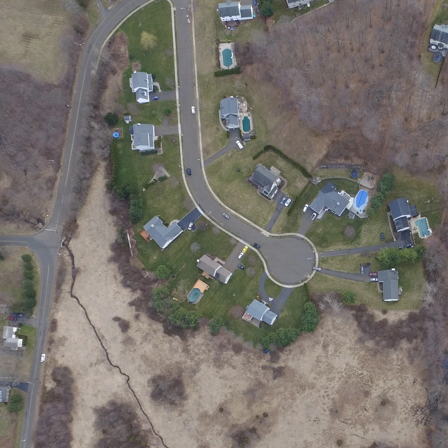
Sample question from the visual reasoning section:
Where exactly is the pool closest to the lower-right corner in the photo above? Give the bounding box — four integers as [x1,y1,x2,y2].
[416,217,430,237]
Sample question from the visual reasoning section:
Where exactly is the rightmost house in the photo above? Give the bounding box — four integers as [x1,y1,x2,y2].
[429,24,448,57]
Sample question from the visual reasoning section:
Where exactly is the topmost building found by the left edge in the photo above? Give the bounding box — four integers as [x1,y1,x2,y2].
[2,327,21,350]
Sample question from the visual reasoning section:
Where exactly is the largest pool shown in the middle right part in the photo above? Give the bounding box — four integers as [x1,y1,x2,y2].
[353,189,369,214]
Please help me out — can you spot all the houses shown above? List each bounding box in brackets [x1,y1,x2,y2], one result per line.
[310,182,354,216]
[2,327,21,350]
[243,298,276,325]
[141,215,184,249]
[0,386,13,402]
[378,268,398,299]
[218,0,253,28]
[129,70,155,101]
[129,122,157,151]
[389,198,418,231]
[250,164,281,199]
[429,24,448,57]
[196,254,233,283]
[219,95,240,127]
